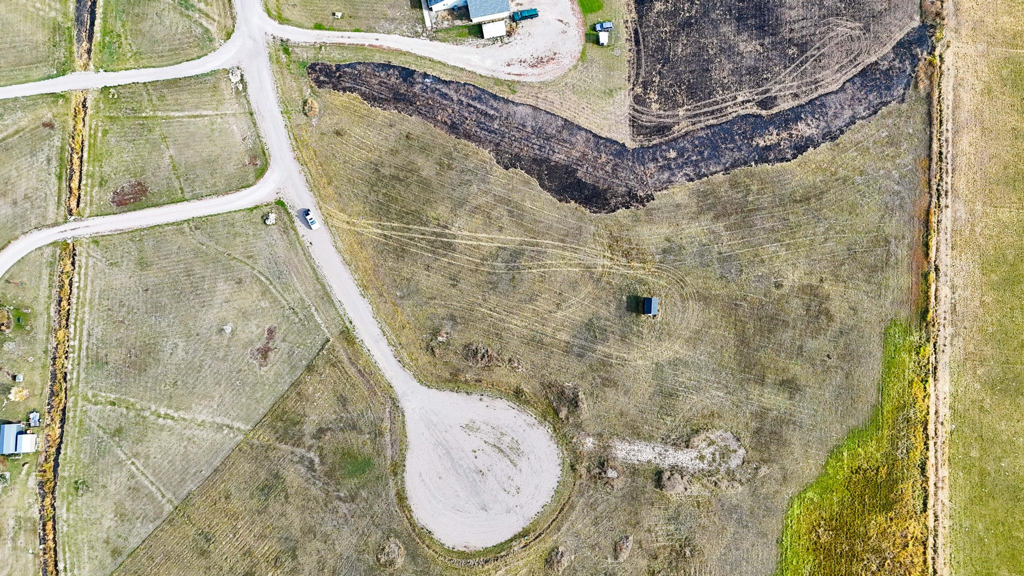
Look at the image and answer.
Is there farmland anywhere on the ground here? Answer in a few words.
Yes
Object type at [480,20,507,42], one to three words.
shed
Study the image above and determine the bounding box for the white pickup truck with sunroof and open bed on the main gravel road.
[303,208,321,231]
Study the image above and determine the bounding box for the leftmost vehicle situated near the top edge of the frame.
[514,7,540,20]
